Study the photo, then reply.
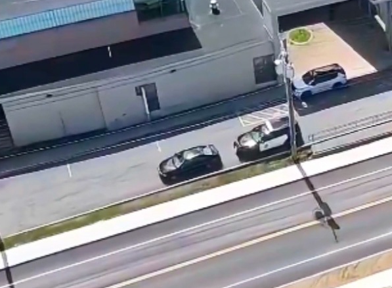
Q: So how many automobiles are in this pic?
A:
3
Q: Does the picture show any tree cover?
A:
No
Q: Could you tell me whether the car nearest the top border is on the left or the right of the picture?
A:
right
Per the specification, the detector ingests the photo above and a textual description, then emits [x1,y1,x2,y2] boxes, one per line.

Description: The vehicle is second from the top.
[231,108,301,151]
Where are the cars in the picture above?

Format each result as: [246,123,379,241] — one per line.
[156,138,223,178]
[291,59,346,95]
[231,108,301,151]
